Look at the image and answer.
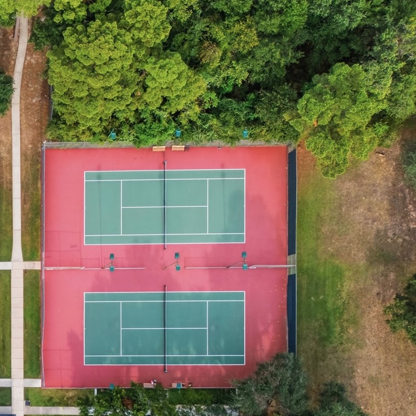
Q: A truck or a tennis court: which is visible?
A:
tennis court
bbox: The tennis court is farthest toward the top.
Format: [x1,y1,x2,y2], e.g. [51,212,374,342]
[44,146,288,269]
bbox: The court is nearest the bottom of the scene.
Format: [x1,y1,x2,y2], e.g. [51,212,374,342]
[43,269,288,387]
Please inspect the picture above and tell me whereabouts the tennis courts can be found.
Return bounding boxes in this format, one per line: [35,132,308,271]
[44,146,288,269]
[43,269,288,387]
